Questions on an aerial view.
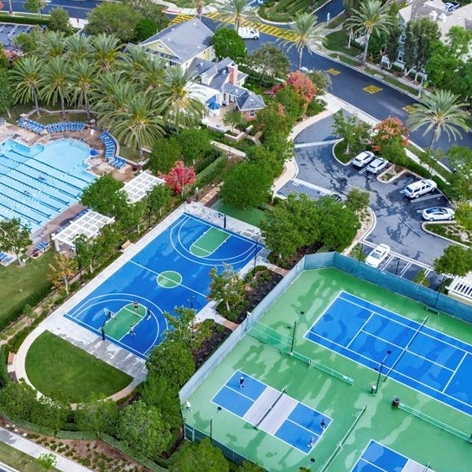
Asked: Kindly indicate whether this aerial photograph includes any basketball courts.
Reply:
Yes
